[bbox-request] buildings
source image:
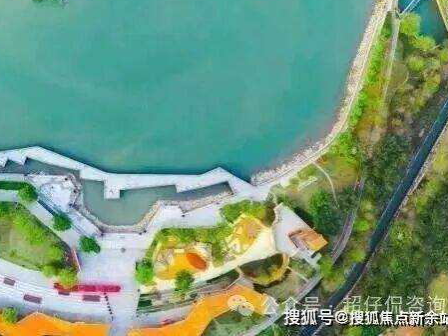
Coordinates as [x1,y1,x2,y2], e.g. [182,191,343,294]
[289,228,328,257]
[0,311,110,336]
[125,285,268,336]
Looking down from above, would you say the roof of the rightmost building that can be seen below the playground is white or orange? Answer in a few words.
orange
